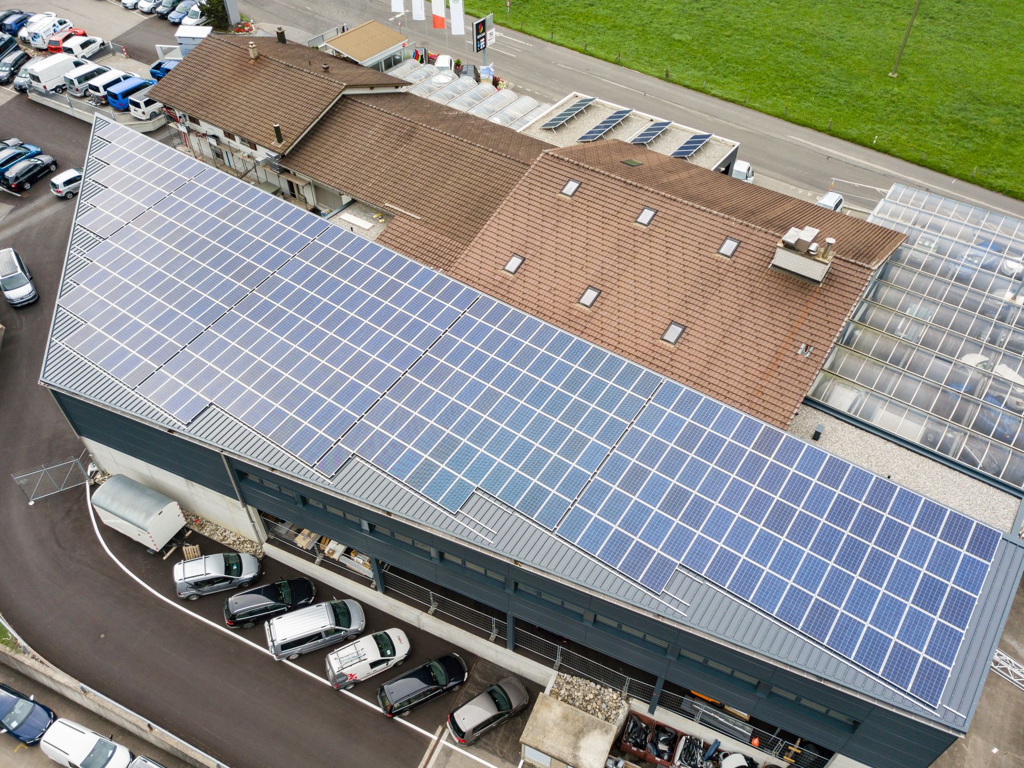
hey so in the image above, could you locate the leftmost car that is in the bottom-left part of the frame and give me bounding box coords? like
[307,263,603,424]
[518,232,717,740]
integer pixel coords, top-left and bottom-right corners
[0,673,60,760]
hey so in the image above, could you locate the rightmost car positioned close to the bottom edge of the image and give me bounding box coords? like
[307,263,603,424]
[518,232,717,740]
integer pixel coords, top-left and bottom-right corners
[436,671,535,752]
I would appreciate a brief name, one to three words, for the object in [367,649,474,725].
car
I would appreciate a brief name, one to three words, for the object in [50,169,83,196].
car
